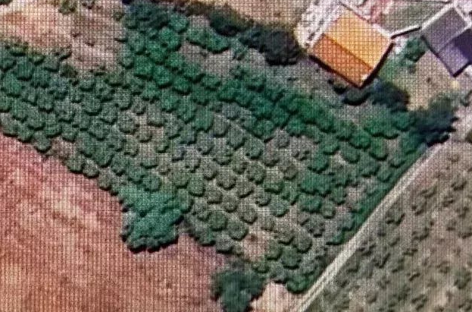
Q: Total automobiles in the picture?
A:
zero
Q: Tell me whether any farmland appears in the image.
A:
Yes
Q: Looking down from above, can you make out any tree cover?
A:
Yes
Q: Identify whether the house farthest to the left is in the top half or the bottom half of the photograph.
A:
top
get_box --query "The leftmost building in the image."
[310,0,392,87]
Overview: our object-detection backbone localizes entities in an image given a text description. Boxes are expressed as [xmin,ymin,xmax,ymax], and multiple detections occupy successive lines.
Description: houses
[421,0,472,76]
[310,0,392,87]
